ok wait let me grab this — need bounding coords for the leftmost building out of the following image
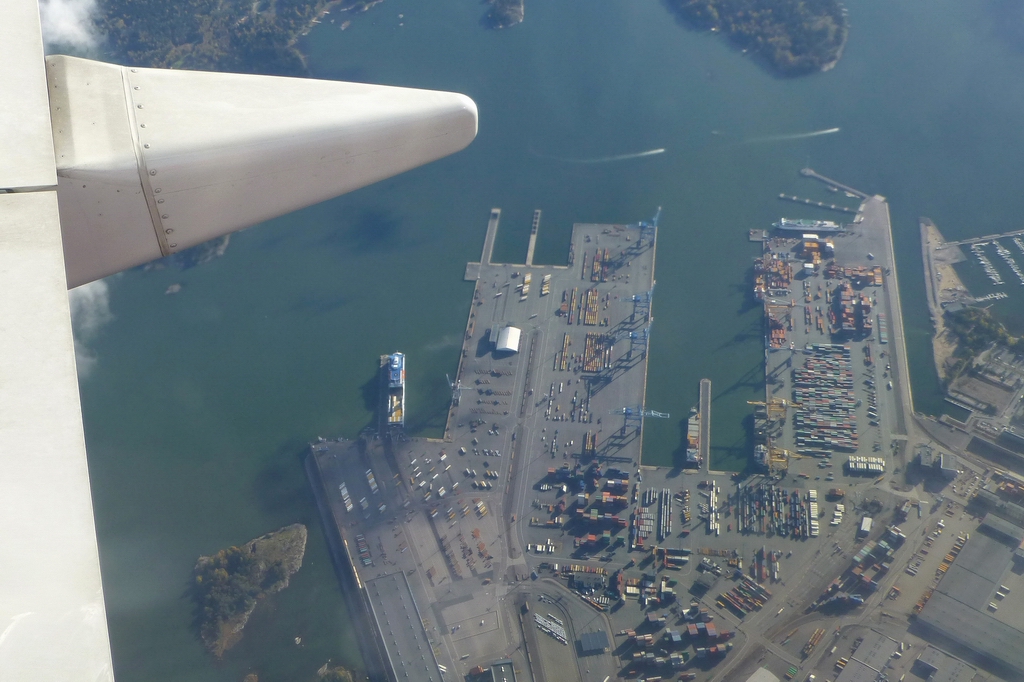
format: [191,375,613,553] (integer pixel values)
[365,571,443,682]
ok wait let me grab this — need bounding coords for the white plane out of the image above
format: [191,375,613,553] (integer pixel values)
[0,0,478,682]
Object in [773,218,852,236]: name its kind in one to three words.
ship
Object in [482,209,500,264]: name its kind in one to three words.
pier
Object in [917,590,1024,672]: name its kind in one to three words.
building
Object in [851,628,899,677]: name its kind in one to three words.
building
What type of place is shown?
port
